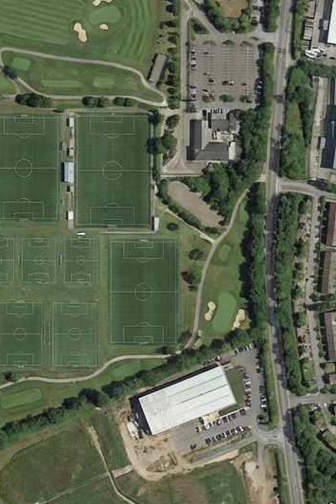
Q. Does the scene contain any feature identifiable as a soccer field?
Yes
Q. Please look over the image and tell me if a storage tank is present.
No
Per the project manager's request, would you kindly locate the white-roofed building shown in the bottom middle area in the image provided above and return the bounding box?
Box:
[139,366,236,436]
